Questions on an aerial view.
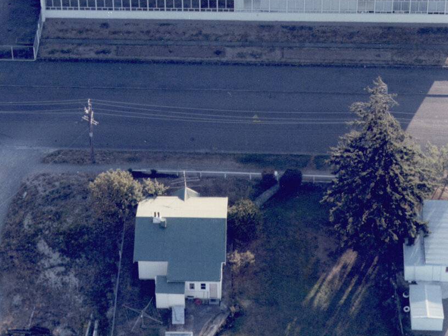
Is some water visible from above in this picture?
No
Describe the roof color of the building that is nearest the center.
blue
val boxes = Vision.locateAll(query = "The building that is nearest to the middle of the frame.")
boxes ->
[134,187,228,304]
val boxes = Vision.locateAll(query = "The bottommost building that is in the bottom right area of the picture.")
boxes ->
[408,281,446,332]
